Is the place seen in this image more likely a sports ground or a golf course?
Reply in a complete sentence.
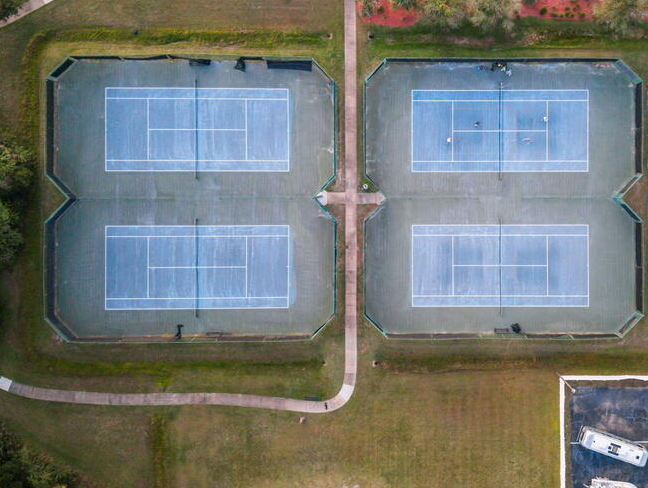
This image shows a sports ground.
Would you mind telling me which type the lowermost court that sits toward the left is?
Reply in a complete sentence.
Looking closely, the lowermost court that sits toward the left is a tennis court.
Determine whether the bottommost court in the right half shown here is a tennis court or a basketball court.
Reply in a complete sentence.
What you see as the bottommost court in the right half is a tennis court.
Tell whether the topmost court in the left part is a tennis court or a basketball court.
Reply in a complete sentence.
I'd say the topmost court in the left part is a tennis court.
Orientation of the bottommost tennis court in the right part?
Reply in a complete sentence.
From this overhead view, the bottommost tennis court in the right part appears to run from left to right.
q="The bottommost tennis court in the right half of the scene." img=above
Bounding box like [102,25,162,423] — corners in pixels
[367,198,633,333]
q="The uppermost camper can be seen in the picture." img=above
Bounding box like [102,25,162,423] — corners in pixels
[573,423,647,468]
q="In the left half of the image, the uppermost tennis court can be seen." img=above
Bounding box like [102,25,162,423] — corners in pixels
[59,64,335,198]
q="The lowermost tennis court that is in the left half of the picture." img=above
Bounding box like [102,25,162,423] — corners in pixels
[58,198,334,335]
